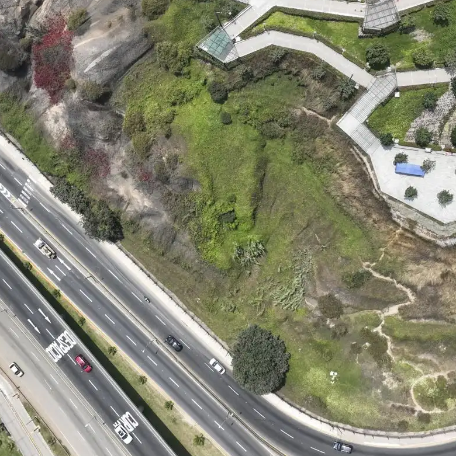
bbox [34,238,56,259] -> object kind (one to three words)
vehicle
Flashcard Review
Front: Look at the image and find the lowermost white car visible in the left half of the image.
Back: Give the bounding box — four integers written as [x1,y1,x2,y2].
[114,421,135,443]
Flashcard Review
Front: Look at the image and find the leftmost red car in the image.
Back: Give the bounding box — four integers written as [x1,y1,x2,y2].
[74,353,92,372]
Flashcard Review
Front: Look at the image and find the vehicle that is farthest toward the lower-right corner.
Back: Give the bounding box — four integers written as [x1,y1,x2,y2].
[330,441,355,453]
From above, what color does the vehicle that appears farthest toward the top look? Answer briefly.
white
